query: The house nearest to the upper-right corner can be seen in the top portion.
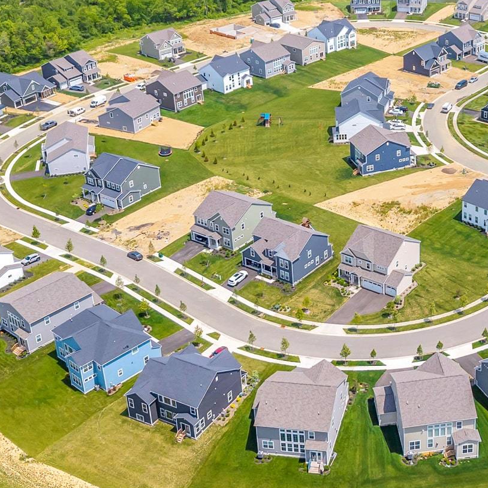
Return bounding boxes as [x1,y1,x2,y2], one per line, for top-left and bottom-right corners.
[453,0,488,20]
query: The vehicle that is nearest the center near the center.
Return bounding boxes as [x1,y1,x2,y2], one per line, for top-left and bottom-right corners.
[229,266,246,282]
